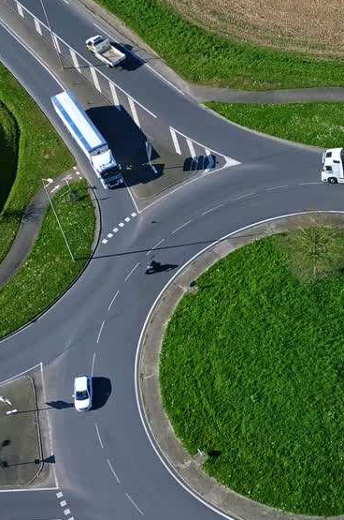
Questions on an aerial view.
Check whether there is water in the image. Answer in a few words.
No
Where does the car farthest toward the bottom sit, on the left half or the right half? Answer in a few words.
left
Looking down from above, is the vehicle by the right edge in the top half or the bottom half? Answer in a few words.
top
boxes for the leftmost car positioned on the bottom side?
[73,375,94,412]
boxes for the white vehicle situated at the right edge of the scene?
[321,148,344,184]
